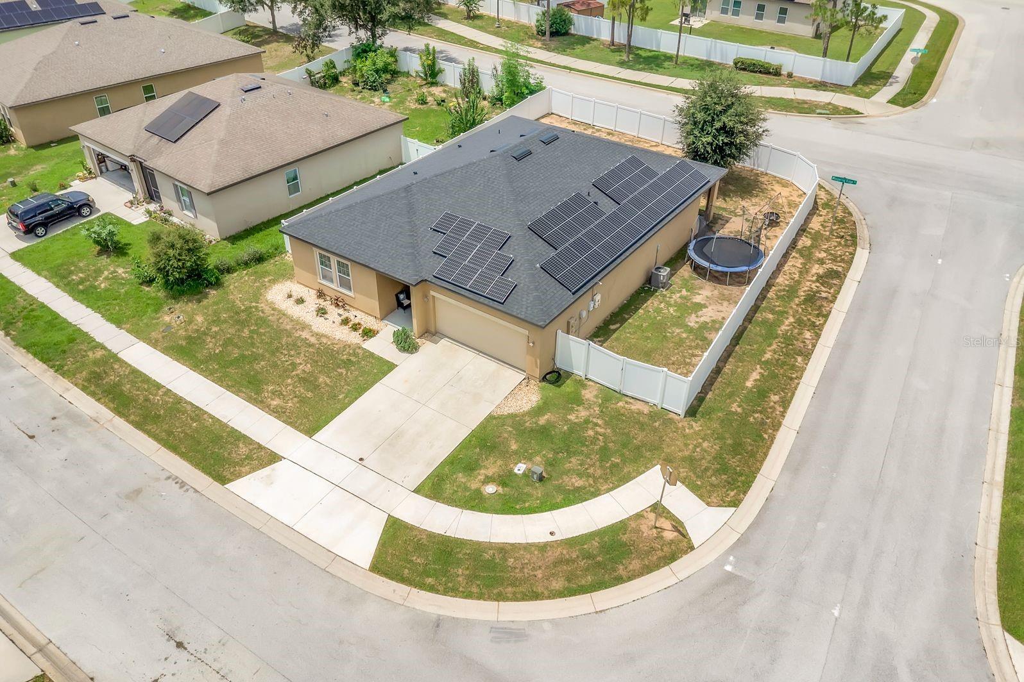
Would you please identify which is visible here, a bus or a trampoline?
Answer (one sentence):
There is a trampoline in the scene.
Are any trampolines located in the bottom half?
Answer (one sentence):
No, no trampoline appears in the bottom half.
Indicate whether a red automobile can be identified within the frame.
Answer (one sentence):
No, there isn't any red automobile down there.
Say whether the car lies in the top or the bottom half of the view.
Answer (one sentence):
The car is in the top half of the image.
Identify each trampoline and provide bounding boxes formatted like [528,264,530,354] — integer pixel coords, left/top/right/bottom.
[686,207,770,284]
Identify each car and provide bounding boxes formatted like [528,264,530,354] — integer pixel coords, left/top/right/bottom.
[2,193,100,239]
